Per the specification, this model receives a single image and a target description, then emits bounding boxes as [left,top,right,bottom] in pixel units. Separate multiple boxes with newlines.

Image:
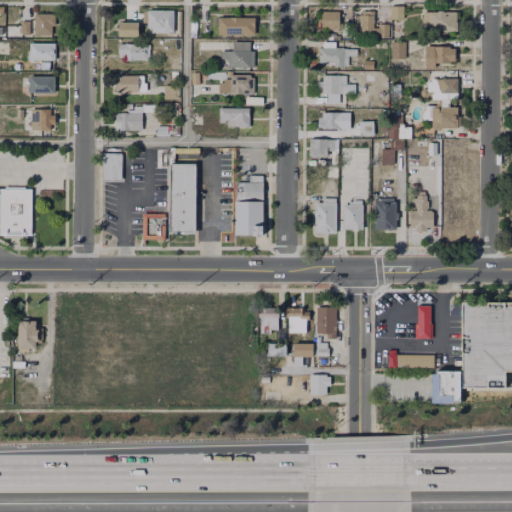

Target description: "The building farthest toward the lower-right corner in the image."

[432,372,462,404]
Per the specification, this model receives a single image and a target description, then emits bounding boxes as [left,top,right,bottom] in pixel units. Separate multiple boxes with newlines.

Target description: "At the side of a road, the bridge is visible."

[309,436,412,512]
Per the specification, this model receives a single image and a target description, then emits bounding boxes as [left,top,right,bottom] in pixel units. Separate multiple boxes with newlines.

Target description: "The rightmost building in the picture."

[462,303,512,388]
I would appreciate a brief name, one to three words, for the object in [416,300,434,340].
building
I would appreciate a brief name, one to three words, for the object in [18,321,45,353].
house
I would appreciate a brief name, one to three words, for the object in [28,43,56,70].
house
